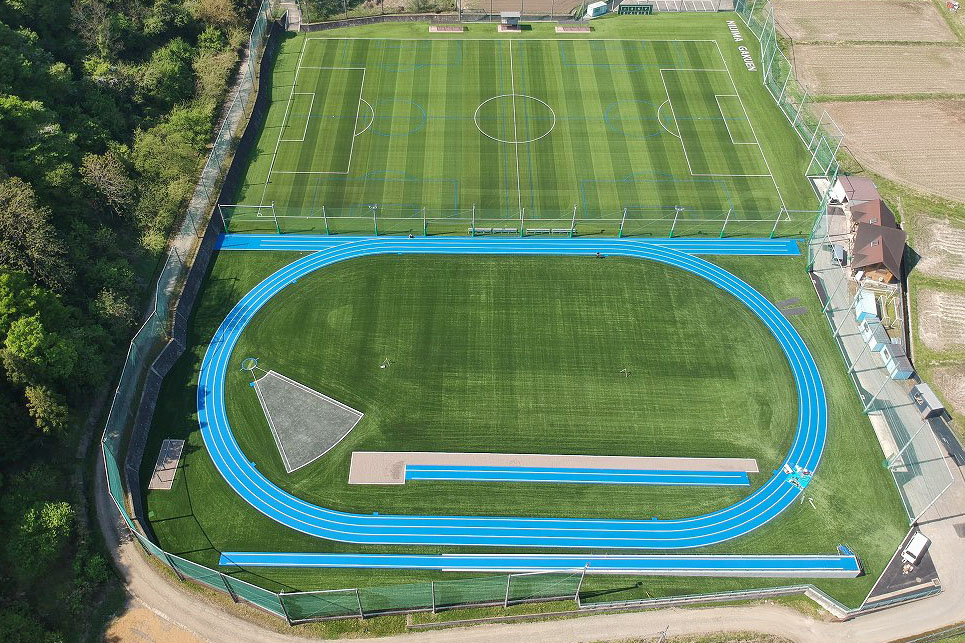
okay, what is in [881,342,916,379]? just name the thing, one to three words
shed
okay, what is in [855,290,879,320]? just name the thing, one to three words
shed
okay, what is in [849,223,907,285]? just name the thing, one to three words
house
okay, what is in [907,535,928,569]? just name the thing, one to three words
vehicle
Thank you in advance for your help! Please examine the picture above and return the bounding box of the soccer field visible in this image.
[258,39,791,221]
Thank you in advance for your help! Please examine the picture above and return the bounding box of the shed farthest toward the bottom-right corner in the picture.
[909,381,948,419]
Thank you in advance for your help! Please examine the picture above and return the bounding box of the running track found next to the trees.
[195,234,828,548]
